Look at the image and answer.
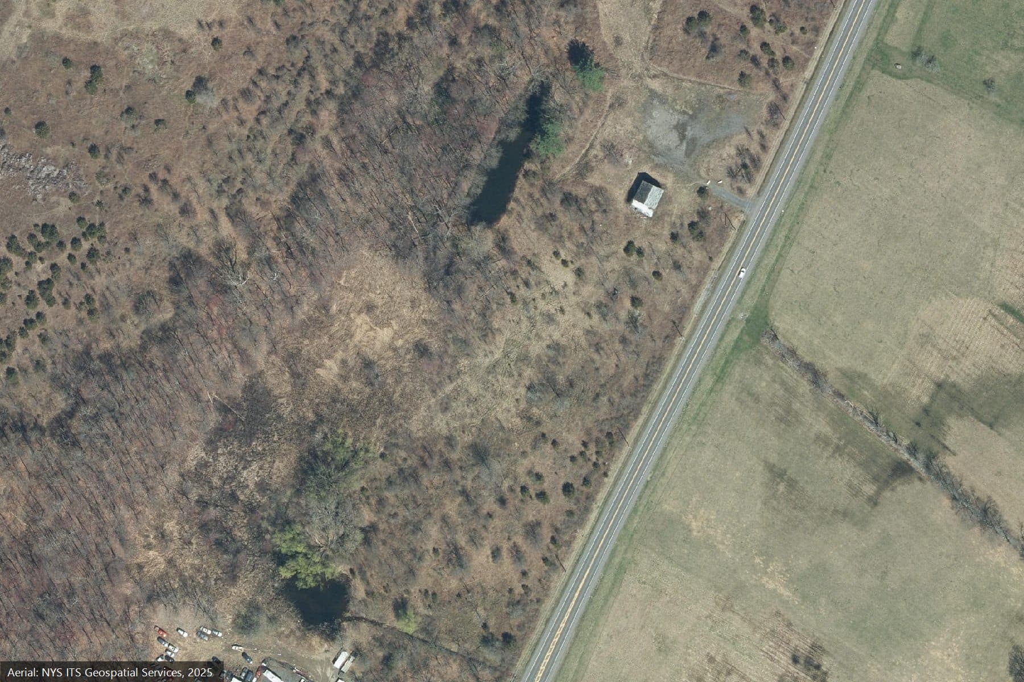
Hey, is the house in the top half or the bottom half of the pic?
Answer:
top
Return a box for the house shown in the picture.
[630,179,661,215]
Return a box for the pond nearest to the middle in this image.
[466,73,553,226]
